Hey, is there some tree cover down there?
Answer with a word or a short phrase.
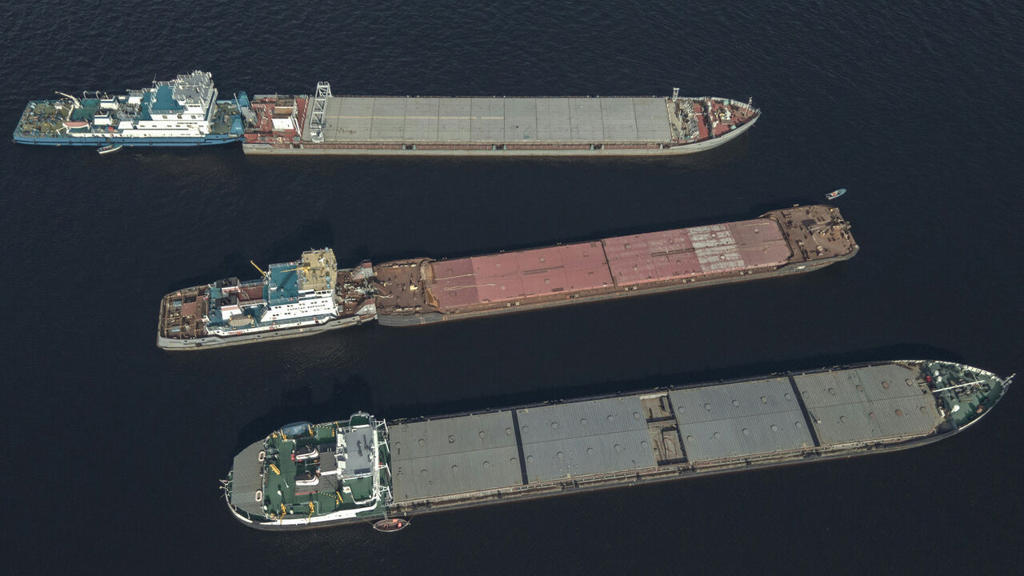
No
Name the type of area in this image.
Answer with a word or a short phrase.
port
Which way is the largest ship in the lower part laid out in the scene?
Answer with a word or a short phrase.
from side to side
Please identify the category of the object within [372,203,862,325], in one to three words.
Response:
ship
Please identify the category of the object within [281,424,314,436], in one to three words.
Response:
boat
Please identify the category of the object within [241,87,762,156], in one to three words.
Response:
ship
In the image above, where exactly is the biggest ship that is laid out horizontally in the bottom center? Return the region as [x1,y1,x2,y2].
[219,361,1018,531]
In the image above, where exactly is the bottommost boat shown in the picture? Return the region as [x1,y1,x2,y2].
[373,518,409,531]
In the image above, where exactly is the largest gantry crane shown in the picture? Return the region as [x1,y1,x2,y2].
[309,80,334,144]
